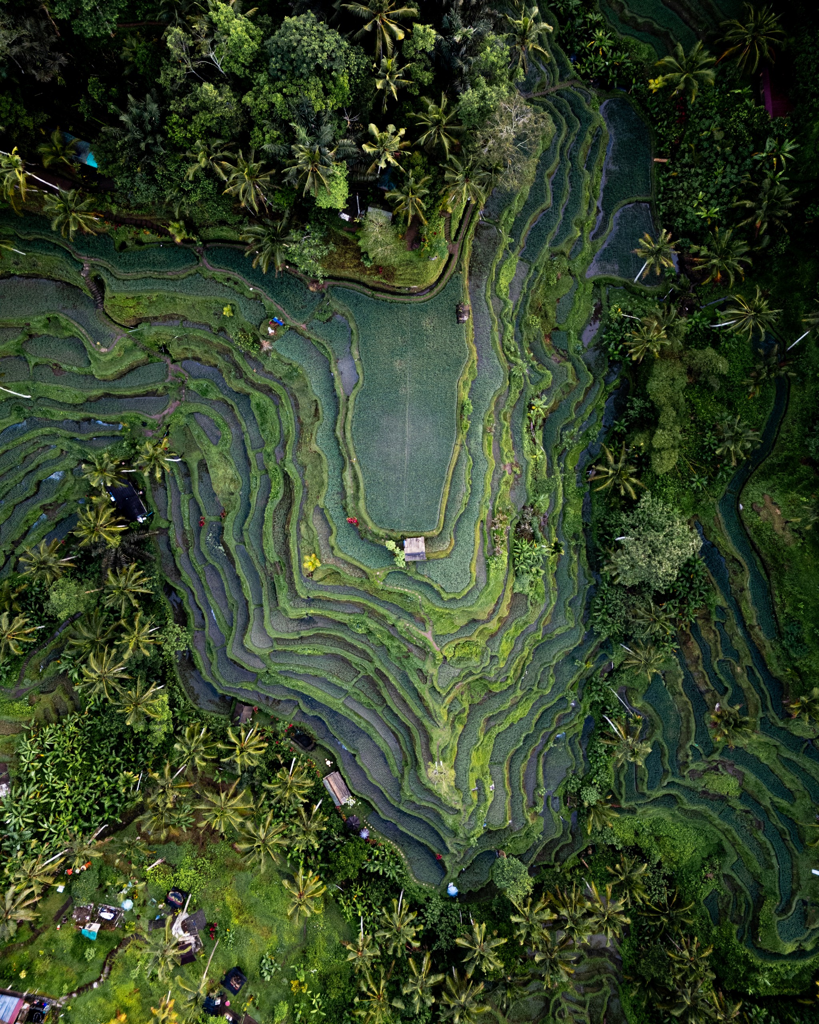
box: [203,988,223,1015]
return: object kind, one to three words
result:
shed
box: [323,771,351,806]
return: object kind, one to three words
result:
building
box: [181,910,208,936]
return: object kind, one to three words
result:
shed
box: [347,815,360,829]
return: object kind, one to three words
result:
umbrella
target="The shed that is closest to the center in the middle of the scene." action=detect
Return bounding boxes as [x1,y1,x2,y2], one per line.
[405,537,426,561]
